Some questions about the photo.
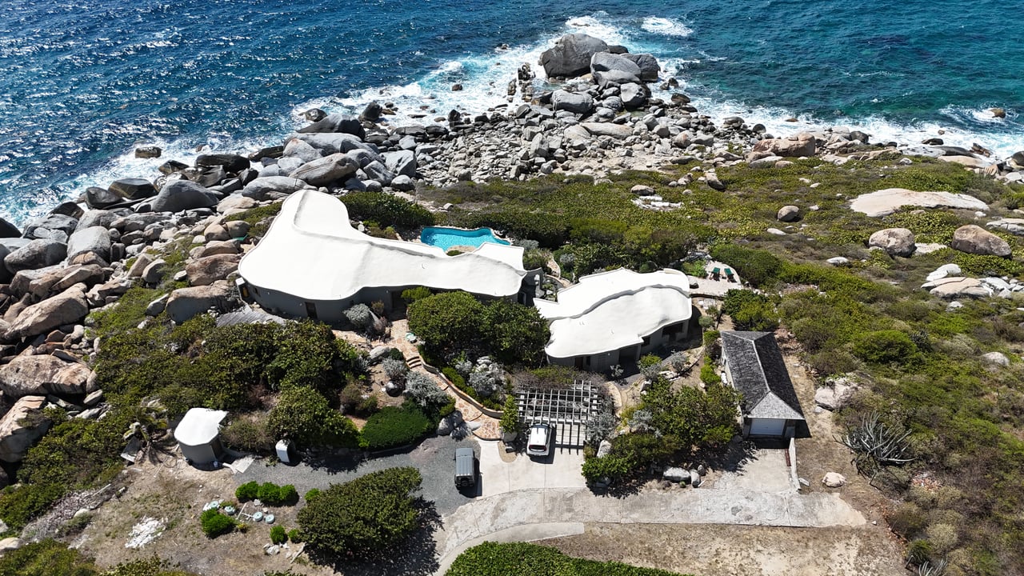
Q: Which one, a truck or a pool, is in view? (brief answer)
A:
pool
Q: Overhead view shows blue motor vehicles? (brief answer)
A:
No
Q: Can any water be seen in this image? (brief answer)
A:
Yes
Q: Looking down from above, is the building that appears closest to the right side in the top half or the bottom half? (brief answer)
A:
bottom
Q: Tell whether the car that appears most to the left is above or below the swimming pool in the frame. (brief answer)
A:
below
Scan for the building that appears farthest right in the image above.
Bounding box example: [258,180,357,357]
[722,331,805,434]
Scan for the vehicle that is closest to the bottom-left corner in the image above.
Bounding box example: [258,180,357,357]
[452,446,478,487]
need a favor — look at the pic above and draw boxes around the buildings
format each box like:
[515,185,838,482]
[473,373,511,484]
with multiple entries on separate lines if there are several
[239,191,525,326]
[534,260,692,380]
[175,408,230,466]
[722,331,805,434]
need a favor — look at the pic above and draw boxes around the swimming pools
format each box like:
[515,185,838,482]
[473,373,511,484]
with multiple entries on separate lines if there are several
[417,224,514,256]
